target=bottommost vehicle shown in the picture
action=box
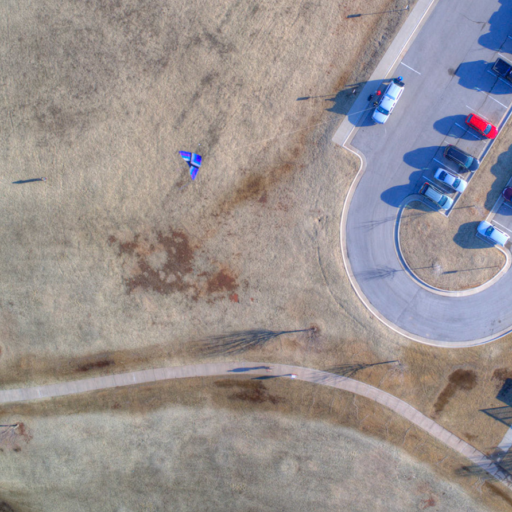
[475,219,512,248]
